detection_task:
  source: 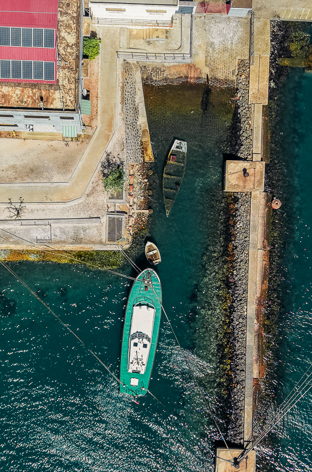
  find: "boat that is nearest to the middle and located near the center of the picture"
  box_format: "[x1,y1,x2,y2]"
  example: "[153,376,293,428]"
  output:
[144,241,160,265]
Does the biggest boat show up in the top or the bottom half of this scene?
bottom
